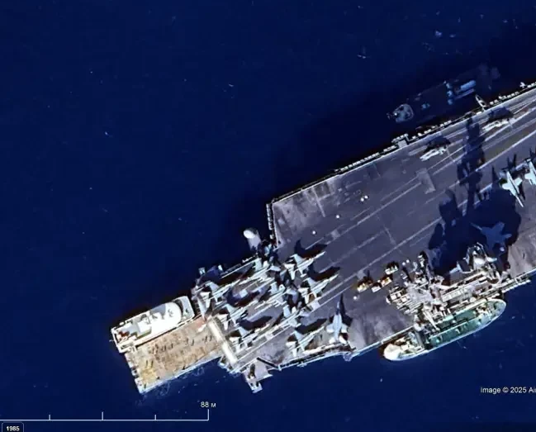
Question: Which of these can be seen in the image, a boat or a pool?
boat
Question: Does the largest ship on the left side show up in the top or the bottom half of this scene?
bottom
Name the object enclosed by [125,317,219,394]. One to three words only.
ship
